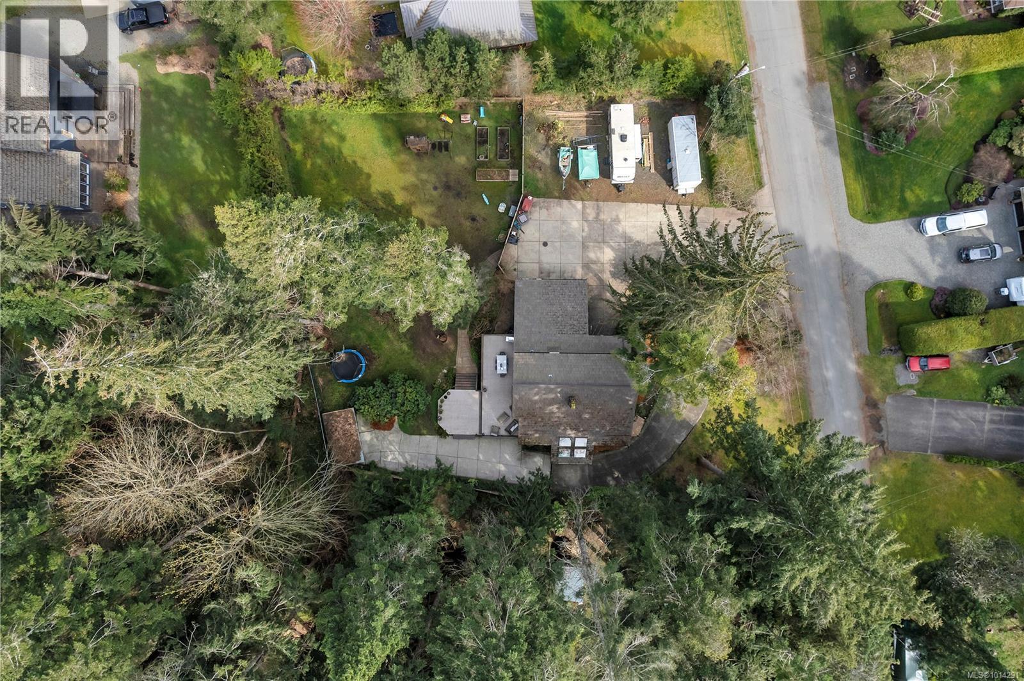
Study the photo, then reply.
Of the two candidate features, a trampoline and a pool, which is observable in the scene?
trampoline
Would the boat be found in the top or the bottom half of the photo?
top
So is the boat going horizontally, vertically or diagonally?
vertically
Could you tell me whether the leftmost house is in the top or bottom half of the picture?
top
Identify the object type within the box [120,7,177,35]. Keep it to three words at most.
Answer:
truck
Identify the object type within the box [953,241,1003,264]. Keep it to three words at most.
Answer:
car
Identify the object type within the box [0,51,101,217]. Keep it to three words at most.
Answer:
house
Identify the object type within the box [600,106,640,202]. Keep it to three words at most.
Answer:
trailer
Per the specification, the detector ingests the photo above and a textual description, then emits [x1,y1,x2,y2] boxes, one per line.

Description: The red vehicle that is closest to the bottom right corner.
[903,353,951,375]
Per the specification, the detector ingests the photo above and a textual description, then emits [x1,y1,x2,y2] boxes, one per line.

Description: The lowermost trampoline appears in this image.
[327,349,365,385]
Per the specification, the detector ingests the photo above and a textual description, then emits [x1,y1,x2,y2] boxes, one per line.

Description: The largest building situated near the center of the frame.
[511,277,644,465]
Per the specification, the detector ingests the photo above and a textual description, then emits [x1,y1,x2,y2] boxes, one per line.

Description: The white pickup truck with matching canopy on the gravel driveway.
[917,210,987,237]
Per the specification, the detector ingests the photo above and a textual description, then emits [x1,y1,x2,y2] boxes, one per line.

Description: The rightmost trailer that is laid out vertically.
[666,116,702,204]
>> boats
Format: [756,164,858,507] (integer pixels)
[555,143,576,188]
